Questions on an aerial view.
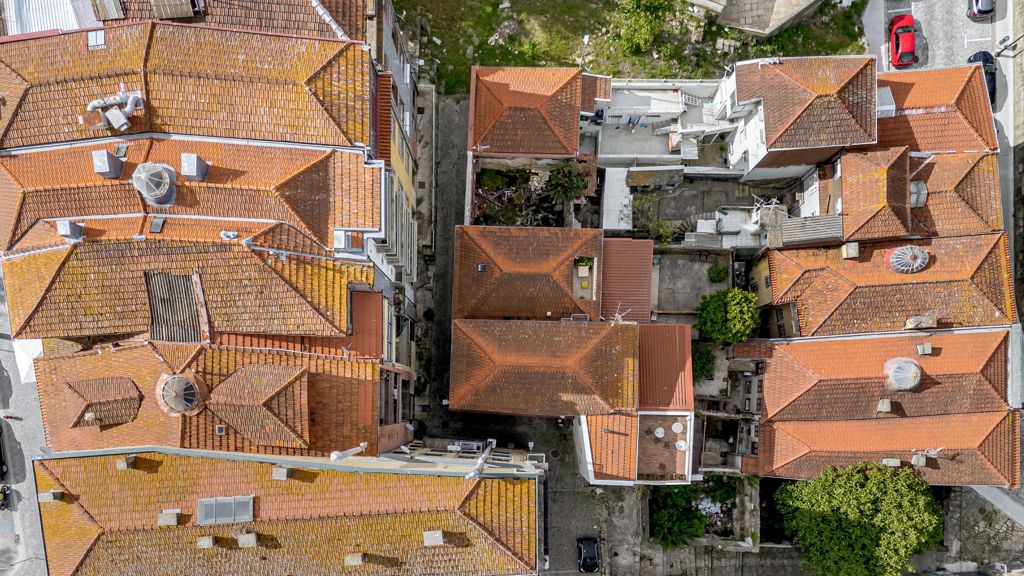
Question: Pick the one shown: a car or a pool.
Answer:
car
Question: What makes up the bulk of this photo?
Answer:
buildings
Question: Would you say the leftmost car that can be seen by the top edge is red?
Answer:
Yes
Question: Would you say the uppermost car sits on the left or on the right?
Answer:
right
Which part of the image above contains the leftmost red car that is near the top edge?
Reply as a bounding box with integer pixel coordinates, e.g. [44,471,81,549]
[887,19,916,69]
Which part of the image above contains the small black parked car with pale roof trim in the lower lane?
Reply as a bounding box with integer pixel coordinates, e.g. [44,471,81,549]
[576,537,601,573]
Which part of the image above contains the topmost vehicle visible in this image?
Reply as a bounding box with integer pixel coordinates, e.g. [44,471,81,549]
[965,0,996,25]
